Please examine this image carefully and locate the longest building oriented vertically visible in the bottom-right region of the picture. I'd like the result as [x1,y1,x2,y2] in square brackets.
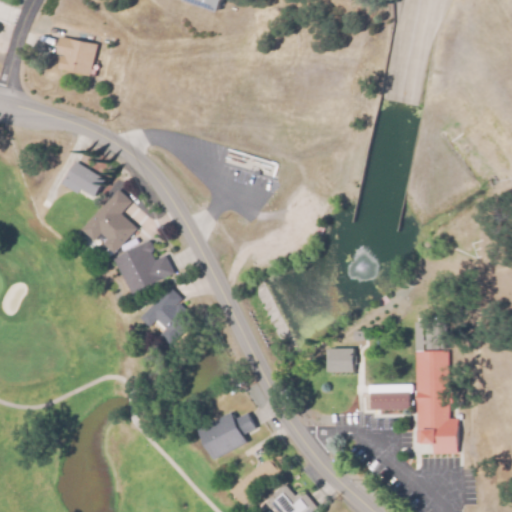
[416,351,462,456]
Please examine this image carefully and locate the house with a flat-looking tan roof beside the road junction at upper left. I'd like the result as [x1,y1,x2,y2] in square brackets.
[60,38,99,77]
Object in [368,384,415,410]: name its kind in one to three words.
building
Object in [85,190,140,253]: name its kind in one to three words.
house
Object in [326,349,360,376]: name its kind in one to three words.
building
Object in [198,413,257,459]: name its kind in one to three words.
house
